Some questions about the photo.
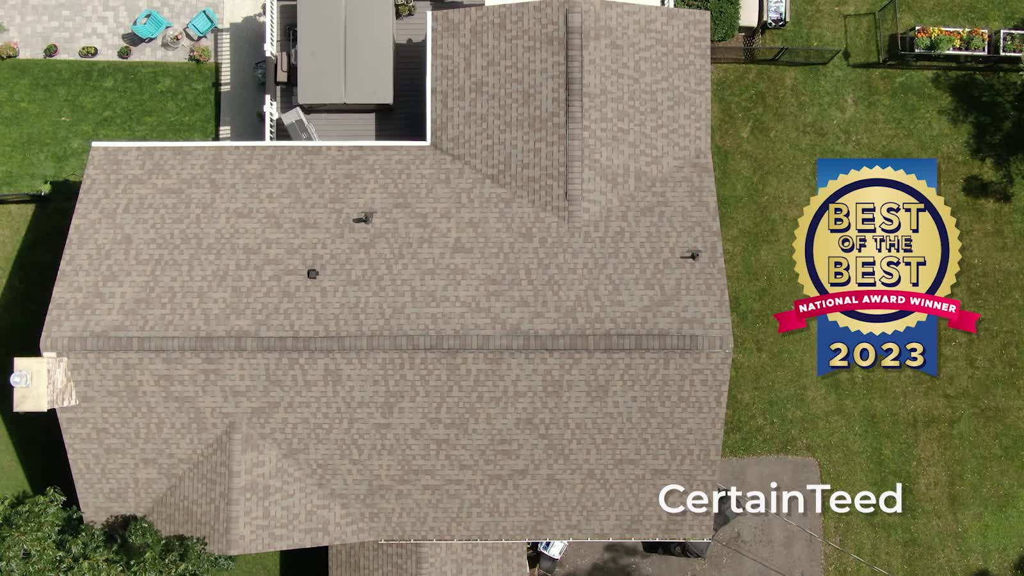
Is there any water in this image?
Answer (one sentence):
No, the scene doesn't show any water.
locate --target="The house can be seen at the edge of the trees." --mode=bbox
[9,0,734,576]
